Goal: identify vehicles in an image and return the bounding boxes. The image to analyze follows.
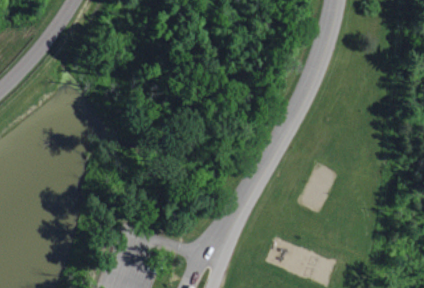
[190,272,198,286]
[204,247,214,260]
